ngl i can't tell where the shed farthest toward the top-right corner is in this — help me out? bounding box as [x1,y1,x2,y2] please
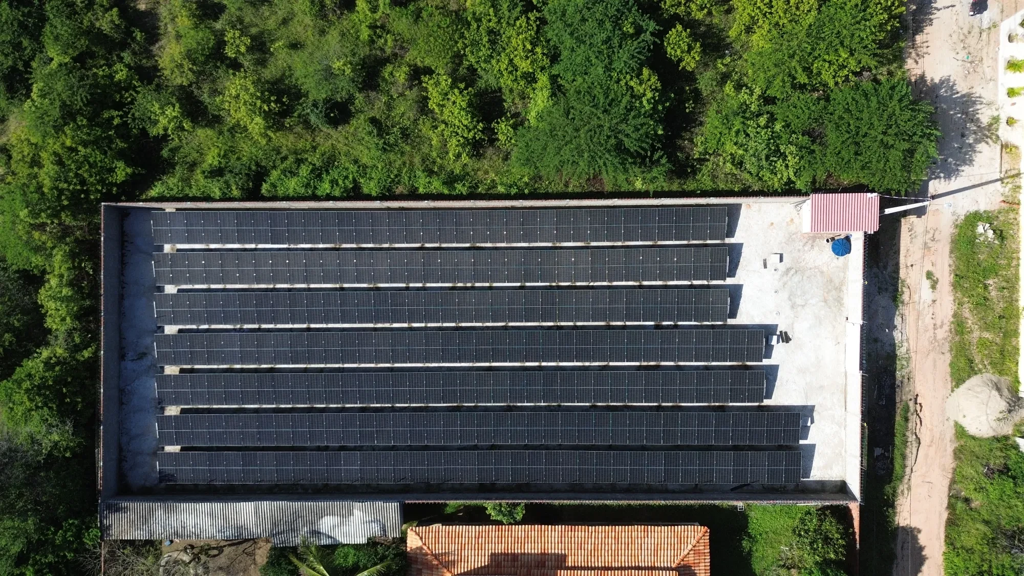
[802,193,879,236]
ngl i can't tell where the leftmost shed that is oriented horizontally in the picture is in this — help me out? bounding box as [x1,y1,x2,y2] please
[104,504,412,547]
